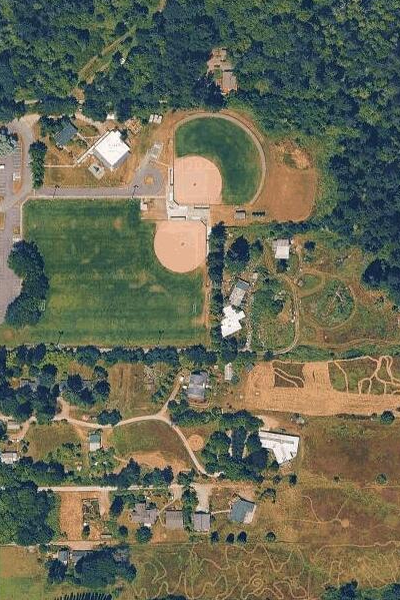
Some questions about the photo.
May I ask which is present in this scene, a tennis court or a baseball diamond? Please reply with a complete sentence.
The image shows a baseball diamond.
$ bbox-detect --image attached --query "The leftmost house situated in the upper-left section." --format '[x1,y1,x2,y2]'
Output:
[53,120,80,149]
